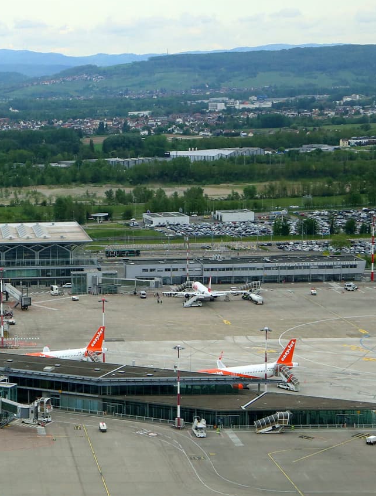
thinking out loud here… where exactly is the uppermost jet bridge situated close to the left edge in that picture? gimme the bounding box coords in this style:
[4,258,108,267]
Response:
[1,280,29,307]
